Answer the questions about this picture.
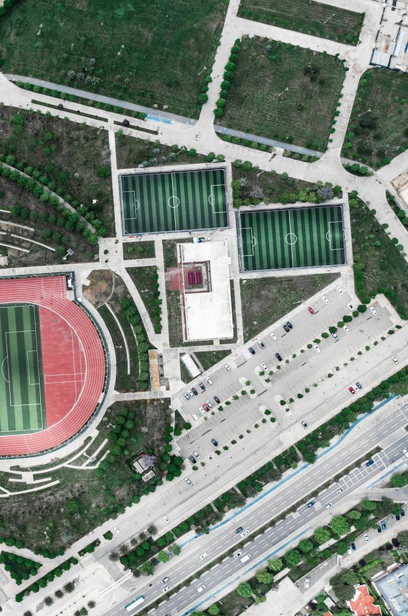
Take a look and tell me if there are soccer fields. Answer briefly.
Yes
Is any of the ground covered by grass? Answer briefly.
Yes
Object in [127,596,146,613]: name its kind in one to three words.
vehicle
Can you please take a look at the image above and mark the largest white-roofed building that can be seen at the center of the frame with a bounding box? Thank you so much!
[174,238,235,343]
